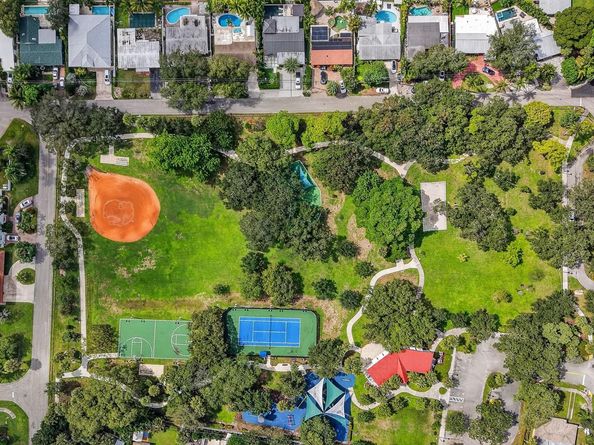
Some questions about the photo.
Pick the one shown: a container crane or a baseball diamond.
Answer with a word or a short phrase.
baseball diamond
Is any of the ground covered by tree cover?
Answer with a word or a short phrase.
Yes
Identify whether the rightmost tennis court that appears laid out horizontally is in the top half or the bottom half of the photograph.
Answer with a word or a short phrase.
bottom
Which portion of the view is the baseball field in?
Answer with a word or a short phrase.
left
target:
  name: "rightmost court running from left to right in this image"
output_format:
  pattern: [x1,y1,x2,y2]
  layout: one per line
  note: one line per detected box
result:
[224,310,318,356]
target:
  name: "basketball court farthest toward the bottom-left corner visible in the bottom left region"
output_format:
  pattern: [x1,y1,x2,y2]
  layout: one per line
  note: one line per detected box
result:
[119,320,198,359]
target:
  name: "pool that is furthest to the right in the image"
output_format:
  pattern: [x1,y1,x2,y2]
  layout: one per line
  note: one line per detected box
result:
[497,7,517,21]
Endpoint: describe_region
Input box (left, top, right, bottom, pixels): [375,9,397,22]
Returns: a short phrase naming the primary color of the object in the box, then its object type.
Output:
blue swimming pool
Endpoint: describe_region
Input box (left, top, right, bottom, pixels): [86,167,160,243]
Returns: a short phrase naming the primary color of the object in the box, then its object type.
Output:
orange baseball field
